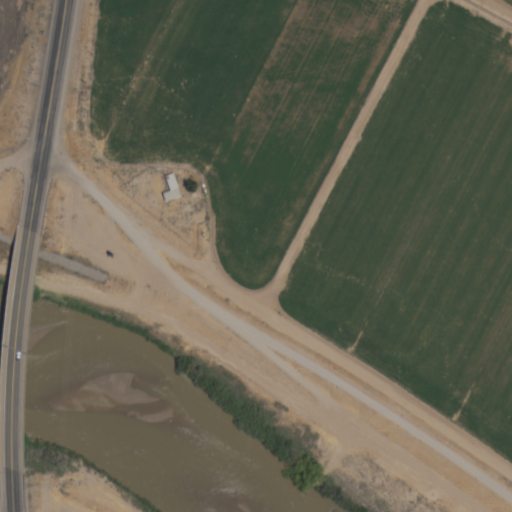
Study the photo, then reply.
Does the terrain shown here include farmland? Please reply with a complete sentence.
Yes, there is farmland in the image.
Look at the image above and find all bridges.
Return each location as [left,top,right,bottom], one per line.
[0,227,44,470]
